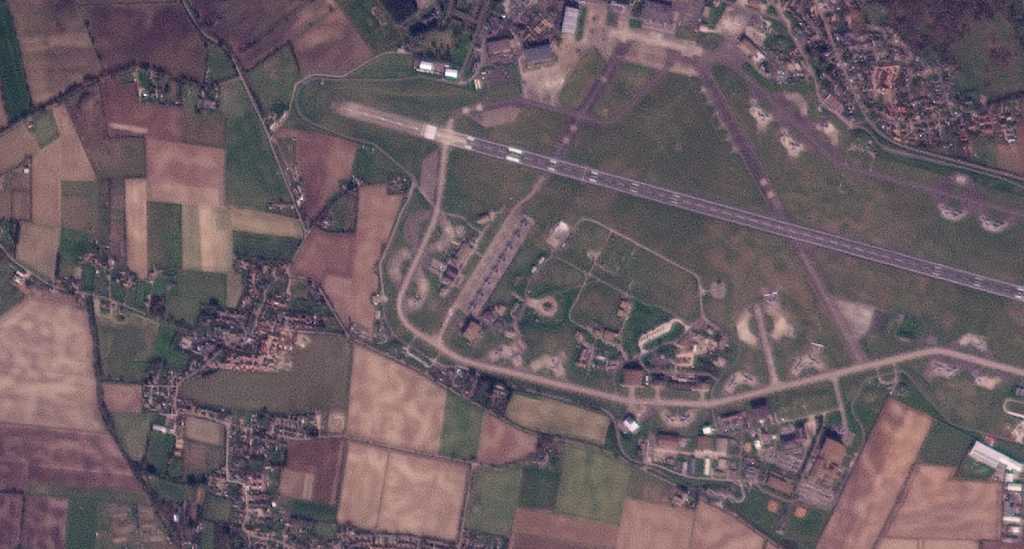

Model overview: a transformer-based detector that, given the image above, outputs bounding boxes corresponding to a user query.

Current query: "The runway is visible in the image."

[357,112,1024,301]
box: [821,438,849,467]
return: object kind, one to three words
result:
hangar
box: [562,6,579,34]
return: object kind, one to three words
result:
hangar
